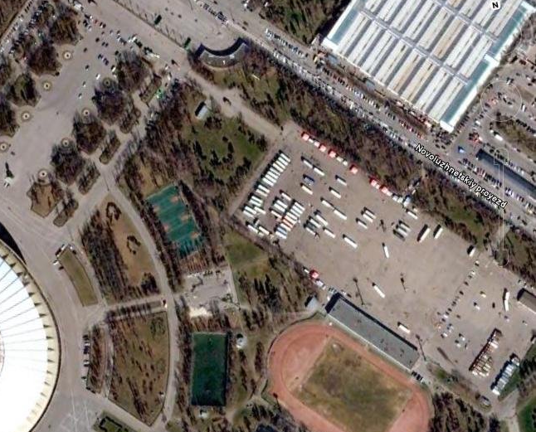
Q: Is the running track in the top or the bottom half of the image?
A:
bottom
